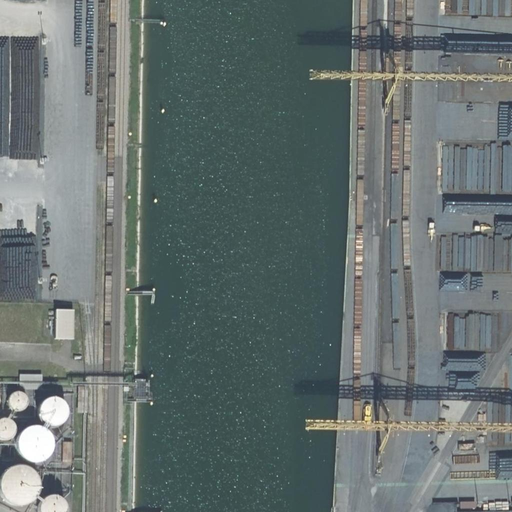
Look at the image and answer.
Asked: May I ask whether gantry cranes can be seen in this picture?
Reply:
Yes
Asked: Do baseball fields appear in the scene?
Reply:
No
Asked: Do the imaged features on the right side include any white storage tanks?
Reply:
No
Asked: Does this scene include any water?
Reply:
Yes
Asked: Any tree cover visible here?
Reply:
No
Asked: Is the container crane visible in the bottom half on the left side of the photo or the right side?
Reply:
right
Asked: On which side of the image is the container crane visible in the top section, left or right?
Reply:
right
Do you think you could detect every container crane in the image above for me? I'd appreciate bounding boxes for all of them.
[304,385,512,476]
[309,37,512,118]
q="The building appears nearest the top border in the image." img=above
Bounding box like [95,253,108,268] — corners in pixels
[54,309,75,339]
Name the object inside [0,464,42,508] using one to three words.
storage tank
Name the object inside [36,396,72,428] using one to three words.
storage tank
